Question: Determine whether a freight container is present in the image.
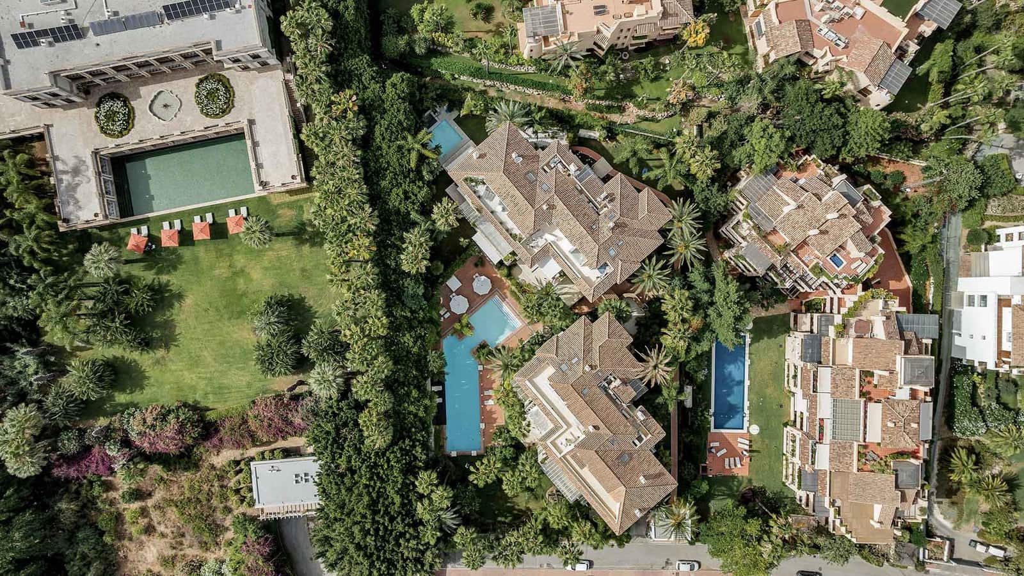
No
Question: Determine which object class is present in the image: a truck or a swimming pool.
swimming pool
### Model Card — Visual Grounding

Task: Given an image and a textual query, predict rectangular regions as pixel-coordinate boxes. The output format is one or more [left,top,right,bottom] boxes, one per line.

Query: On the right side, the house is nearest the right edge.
[947,228,1024,374]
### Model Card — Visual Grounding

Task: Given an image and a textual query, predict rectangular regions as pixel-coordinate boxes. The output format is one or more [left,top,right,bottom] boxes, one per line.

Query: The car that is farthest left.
[566,561,589,574]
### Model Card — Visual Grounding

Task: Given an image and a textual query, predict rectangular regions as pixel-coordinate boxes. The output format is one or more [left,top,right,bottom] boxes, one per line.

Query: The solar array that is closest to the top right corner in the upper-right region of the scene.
[918,0,963,29]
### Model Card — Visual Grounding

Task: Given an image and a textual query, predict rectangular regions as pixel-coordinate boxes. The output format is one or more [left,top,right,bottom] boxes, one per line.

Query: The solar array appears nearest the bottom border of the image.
[881,58,914,95]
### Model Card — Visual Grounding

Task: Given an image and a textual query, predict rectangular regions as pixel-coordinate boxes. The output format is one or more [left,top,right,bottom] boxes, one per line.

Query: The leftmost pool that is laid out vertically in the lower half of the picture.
[442,296,521,452]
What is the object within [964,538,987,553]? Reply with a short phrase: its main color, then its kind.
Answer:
white car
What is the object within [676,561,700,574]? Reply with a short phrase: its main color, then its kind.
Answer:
white vehicle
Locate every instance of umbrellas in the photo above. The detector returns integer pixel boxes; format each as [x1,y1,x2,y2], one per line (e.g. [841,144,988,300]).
[192,222,210,240]
[126,231,149,254]
[472,275,491,294]
[747,425,758,434]
[449,294,468,313]
[161,229,179,247]
[226,214,244,234]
